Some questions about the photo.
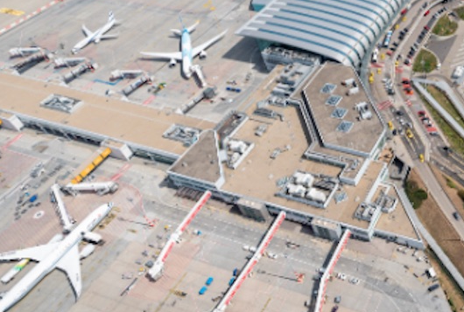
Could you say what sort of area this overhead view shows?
airport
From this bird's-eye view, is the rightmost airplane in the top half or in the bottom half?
top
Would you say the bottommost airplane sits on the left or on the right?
left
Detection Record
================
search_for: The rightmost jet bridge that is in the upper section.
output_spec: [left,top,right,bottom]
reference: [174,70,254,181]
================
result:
[178,67,214,115]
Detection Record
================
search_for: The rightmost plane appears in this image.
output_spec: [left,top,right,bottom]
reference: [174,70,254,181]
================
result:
[139,19,228,77]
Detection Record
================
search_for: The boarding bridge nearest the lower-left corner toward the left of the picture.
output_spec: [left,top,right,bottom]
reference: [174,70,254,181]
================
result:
[50,185,77,235]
